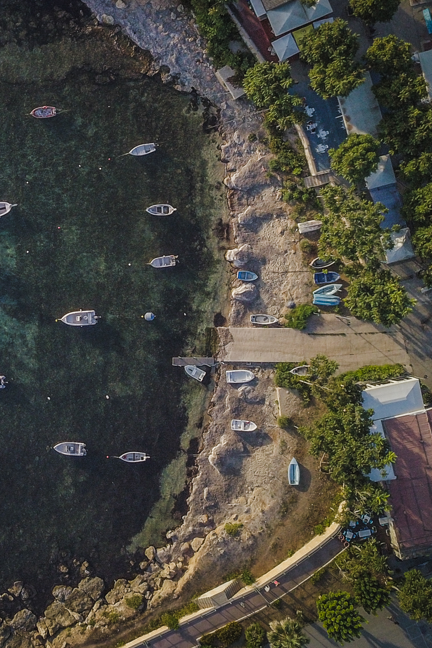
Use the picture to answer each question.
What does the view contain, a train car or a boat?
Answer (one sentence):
Visible in the photo is a boat.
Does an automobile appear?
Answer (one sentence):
No, there isn't any automobile down there.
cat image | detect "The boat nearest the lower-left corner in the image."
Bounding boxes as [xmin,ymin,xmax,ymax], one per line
[54,441,90,456]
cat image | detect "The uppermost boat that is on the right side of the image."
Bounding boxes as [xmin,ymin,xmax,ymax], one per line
[296,220,321,234]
